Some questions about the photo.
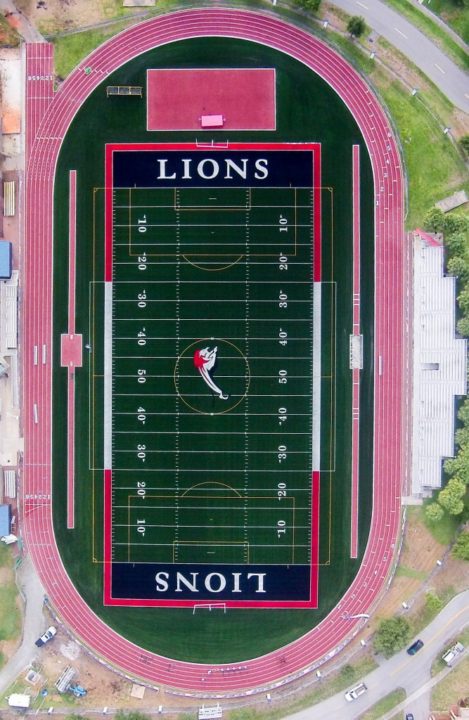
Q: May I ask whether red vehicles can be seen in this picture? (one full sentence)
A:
No, this view has no red vehicle in it.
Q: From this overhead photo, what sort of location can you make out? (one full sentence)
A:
It's a sports ground.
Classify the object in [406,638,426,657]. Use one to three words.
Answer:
car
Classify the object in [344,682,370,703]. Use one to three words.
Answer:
truck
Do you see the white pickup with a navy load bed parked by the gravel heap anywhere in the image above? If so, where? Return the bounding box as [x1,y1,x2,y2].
[32,625,58,650]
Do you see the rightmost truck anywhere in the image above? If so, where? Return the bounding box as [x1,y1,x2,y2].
[441,642,467,669]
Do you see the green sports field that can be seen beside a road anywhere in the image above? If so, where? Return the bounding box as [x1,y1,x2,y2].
[52,37,373,664]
